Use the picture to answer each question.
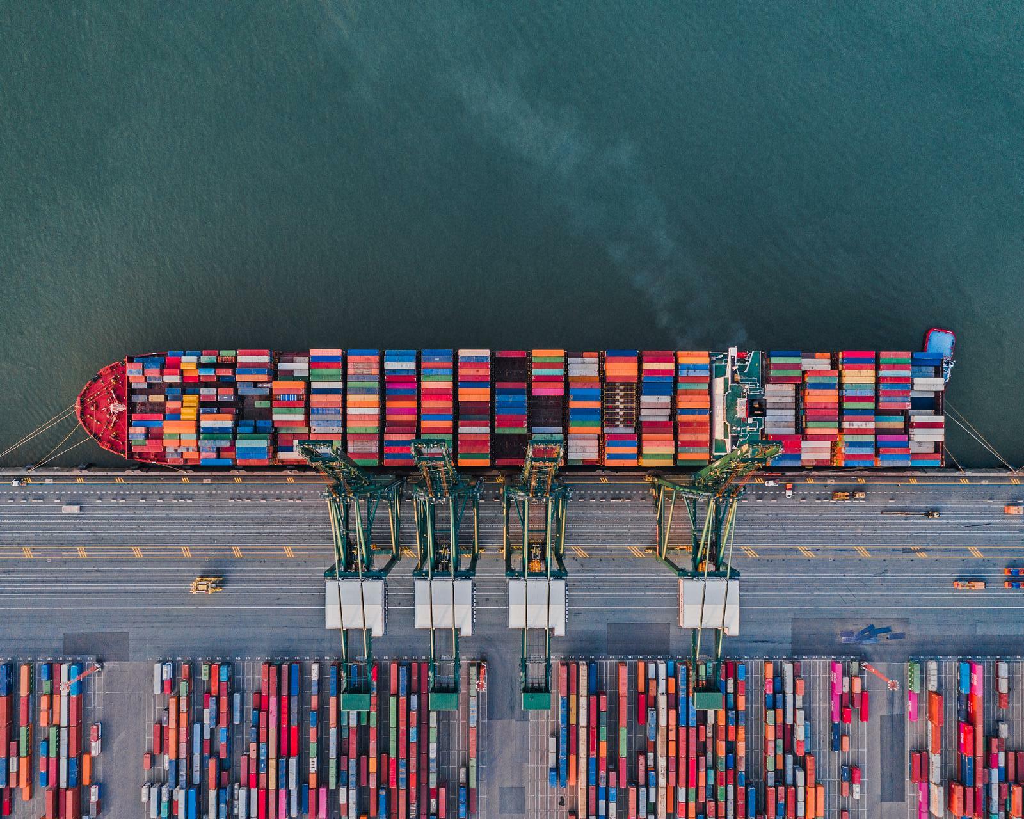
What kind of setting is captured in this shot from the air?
port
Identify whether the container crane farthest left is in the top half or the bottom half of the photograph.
bottom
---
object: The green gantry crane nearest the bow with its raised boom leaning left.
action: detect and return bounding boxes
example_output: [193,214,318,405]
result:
[298,439,414,713]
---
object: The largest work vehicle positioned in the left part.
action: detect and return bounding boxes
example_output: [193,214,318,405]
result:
[190,574,225,594]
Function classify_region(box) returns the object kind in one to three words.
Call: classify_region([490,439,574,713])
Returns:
container crane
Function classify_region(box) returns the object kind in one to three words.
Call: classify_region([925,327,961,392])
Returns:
boat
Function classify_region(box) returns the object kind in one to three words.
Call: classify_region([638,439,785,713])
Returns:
container crane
